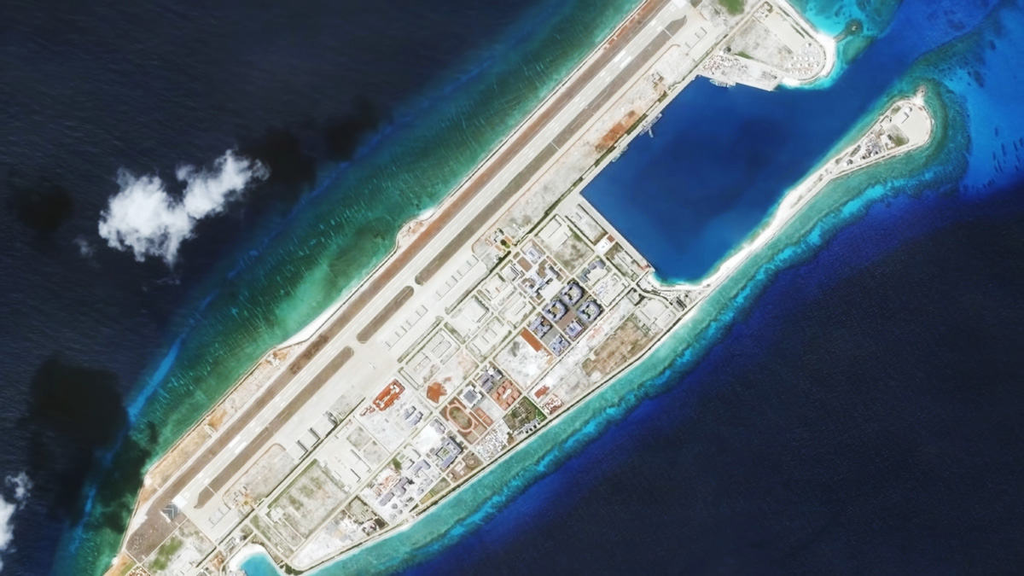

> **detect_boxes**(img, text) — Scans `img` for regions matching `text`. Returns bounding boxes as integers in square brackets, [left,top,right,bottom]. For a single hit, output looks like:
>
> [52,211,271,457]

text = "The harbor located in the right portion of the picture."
[553,63,781,274]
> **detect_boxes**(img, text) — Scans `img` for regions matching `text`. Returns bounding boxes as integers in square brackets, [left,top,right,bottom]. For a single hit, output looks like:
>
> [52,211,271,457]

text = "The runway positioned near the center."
[171,0,690,511]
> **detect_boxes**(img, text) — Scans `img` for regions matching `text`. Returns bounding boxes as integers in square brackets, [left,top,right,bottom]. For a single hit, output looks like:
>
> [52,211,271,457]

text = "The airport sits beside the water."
[142,0,717,560]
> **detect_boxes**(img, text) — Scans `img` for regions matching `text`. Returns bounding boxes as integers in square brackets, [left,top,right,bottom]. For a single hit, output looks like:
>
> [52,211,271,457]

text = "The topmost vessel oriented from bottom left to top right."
[639,115,663,136]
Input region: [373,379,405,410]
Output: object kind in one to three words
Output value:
building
